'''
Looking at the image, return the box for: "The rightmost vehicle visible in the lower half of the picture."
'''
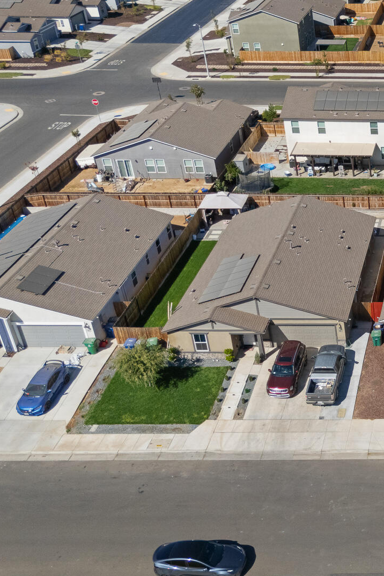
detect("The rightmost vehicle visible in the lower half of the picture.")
[302,349,348,407]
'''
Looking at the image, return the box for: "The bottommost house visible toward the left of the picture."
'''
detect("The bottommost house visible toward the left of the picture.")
[0,194,173,352]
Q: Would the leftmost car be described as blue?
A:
Yes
